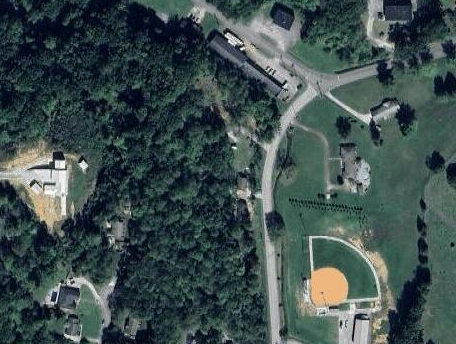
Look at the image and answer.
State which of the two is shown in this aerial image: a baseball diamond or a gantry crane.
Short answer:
baseball diamond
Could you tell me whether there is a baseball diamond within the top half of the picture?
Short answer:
No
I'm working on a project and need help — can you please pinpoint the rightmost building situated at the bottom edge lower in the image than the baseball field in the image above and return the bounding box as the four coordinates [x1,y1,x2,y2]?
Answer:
[354,319,369,344]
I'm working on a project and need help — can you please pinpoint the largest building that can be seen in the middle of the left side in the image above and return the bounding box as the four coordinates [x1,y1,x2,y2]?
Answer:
[27,159,67,194]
